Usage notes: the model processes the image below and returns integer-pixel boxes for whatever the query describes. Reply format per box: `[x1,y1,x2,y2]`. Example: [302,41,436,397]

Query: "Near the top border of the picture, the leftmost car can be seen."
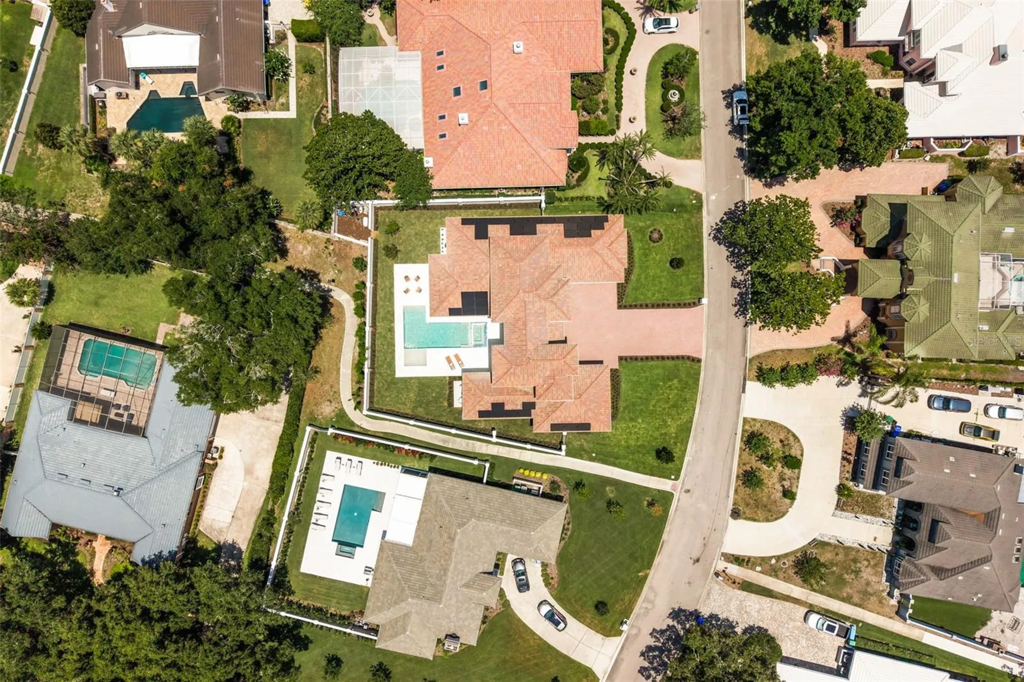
[643,14,679,34]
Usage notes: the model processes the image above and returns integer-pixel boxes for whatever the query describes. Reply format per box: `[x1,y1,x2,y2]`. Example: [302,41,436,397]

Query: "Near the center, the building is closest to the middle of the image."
[428,214,628,433]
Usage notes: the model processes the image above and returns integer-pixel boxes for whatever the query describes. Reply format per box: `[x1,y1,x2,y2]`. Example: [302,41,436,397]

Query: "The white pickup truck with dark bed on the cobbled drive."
[805,610,851,639]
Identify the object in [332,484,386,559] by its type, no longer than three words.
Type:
swimming pool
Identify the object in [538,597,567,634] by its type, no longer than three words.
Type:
car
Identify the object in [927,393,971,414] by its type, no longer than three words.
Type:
car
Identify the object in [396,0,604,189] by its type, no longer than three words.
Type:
house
